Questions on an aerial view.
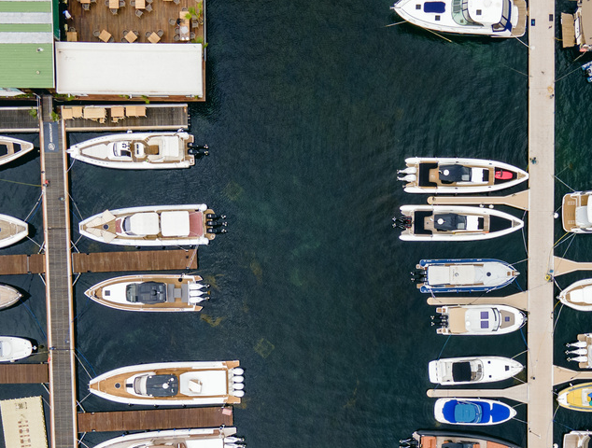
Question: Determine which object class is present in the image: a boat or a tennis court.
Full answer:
I can see a boat in this picture.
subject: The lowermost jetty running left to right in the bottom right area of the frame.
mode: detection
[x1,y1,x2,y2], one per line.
[427,384,529,403]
